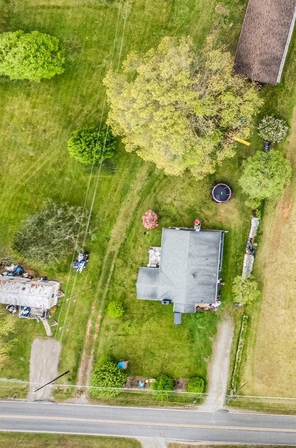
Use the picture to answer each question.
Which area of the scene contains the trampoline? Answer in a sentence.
The trampoline appears toward the right of the photo.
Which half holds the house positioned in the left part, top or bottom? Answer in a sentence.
You can find the house positioned in the left part in the bottom half.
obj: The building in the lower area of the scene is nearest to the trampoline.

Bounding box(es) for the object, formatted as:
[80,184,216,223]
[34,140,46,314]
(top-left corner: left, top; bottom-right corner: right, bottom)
[136,227,224,313]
